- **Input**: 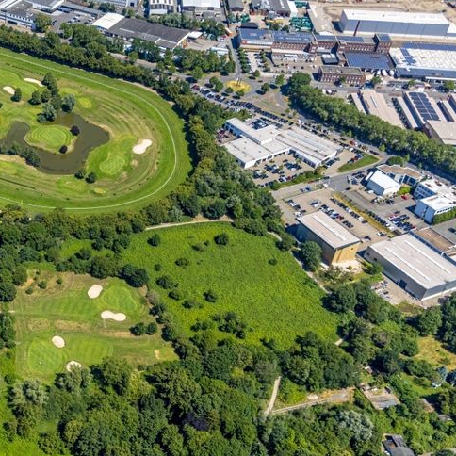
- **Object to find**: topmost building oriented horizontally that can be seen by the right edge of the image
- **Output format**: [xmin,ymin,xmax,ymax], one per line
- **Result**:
[339,9,450,39]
